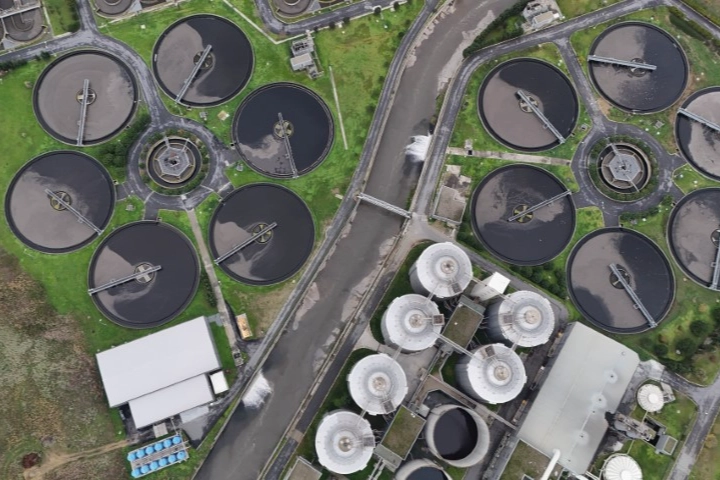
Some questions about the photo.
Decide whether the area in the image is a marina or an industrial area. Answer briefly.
industrial area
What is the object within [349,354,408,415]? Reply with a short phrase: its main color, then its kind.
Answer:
white storage tank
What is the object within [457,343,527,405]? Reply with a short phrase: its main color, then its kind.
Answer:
white storage tank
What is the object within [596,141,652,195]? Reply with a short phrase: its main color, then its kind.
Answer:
gray water tank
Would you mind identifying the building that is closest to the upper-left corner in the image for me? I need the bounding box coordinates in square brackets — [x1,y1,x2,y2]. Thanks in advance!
[291,29,323,81]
